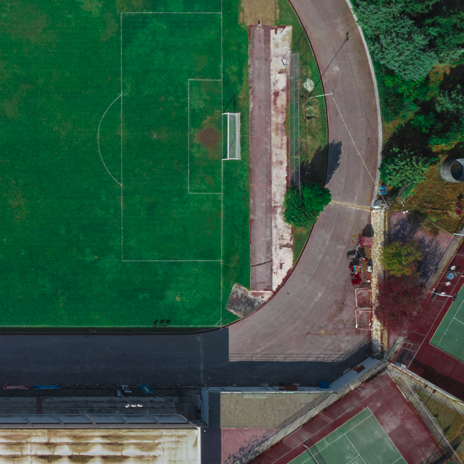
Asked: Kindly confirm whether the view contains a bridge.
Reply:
No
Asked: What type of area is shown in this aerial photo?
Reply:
sports ground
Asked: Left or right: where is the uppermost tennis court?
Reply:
right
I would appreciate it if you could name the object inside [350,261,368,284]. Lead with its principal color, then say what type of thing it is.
red work vehicle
